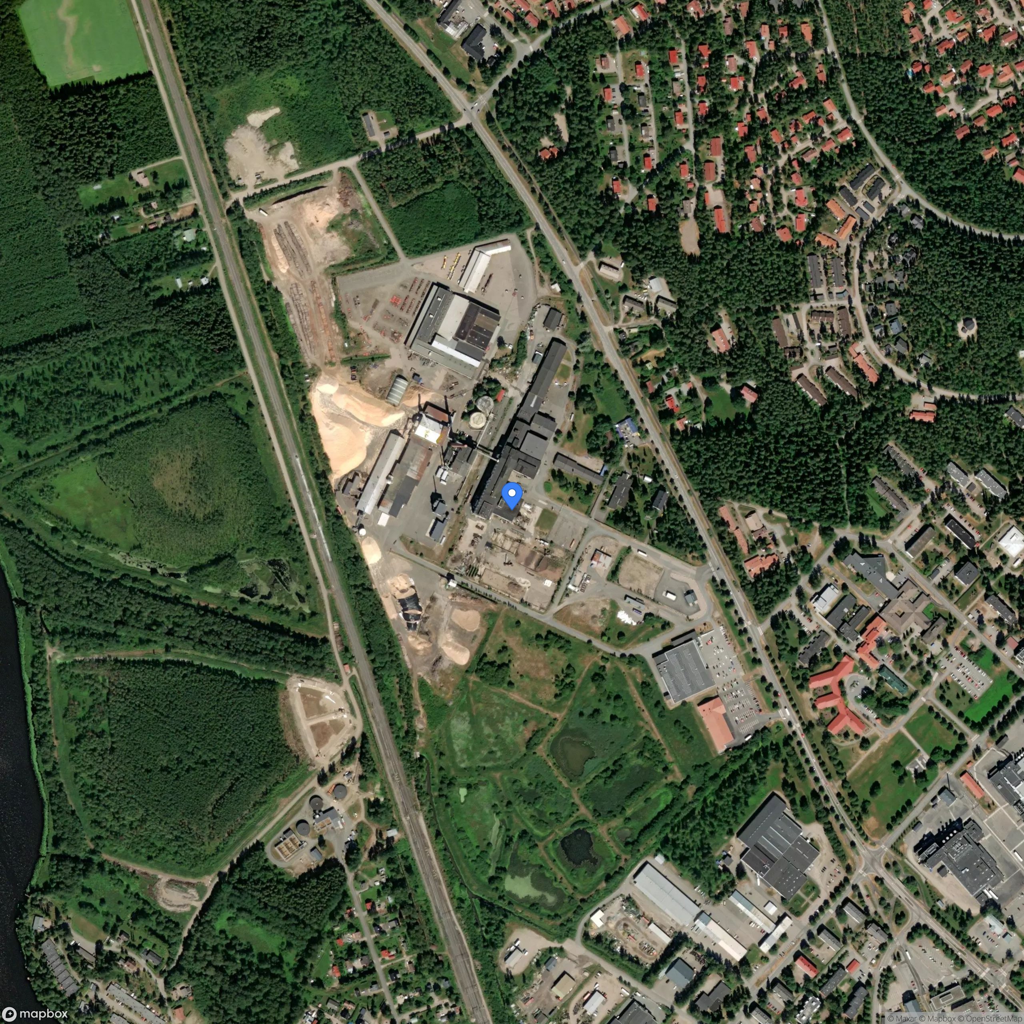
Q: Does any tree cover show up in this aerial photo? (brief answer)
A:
Yes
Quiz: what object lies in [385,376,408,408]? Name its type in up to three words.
shed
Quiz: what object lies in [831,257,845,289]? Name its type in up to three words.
building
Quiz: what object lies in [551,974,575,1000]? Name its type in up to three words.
building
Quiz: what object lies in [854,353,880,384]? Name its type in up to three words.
house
